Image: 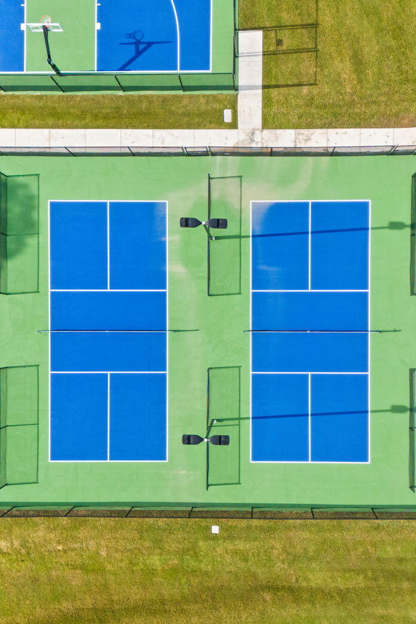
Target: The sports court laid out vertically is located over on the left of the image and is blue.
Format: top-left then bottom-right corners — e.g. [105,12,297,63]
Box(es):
[48,200,167,463]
